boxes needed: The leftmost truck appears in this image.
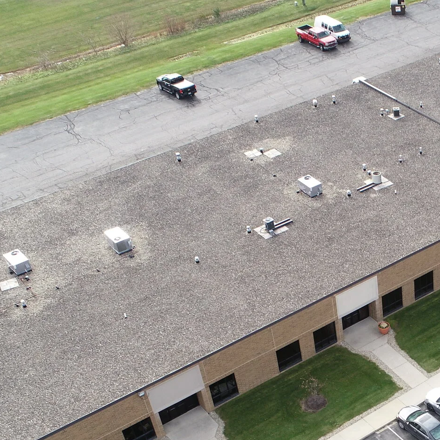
[154,73,200,101]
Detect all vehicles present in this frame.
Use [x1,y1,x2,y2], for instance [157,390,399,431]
[311,11,353,40]
[154,73,200,101]
[426,390,440,415]
[395,407,440,440]
[293,25,339,51]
